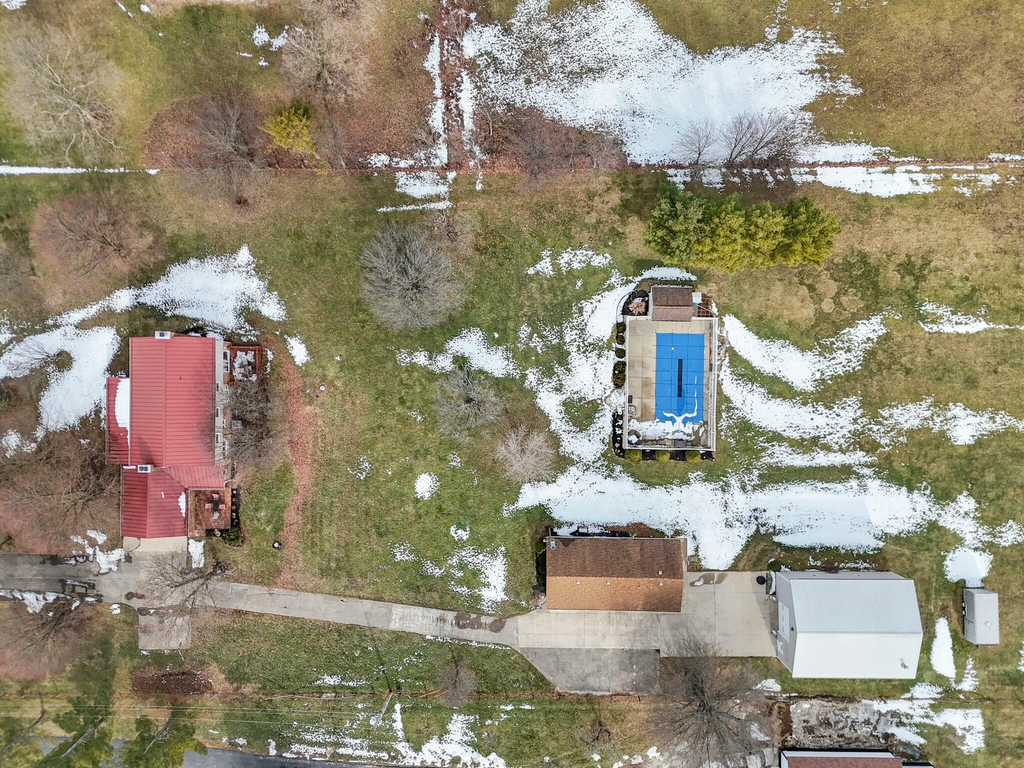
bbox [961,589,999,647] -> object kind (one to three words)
trailer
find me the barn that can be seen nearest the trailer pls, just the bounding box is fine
[775,572,923,678]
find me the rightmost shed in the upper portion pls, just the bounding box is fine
[649,286,695,321]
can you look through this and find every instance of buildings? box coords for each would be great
[779,748,928,768]
[649,286,695,321]
[775,572,923,678]
[105,331,233,539]
[546,535,686,613]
